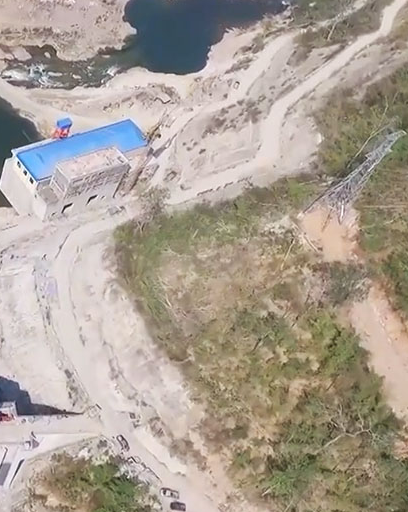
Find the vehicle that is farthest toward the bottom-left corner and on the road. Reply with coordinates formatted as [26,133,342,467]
[116,433,129,451]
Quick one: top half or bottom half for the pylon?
top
